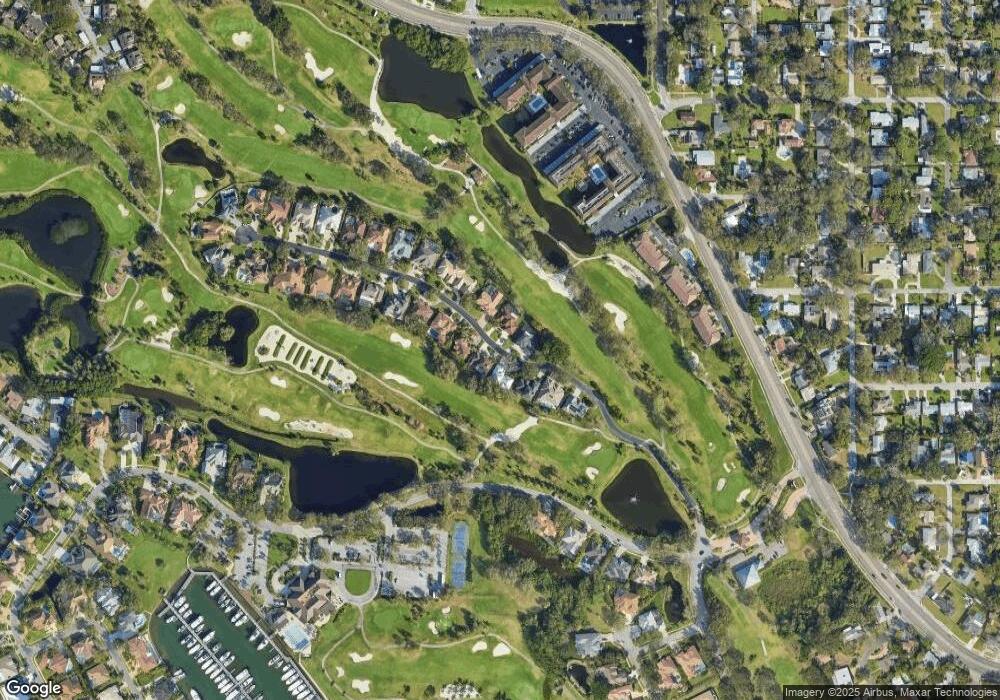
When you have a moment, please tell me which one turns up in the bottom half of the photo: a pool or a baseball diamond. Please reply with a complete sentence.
There is a pool in the bottom half of the photo.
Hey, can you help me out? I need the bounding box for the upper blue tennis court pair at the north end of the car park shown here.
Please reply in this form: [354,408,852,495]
[453,521,470,556]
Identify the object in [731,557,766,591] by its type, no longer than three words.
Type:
building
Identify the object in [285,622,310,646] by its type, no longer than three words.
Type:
swimming pool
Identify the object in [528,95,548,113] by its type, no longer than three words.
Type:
swimming pool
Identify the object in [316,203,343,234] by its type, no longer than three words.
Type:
house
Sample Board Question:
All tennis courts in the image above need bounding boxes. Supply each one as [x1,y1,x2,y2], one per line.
[453,521,470,556]
[452,561,467,589]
